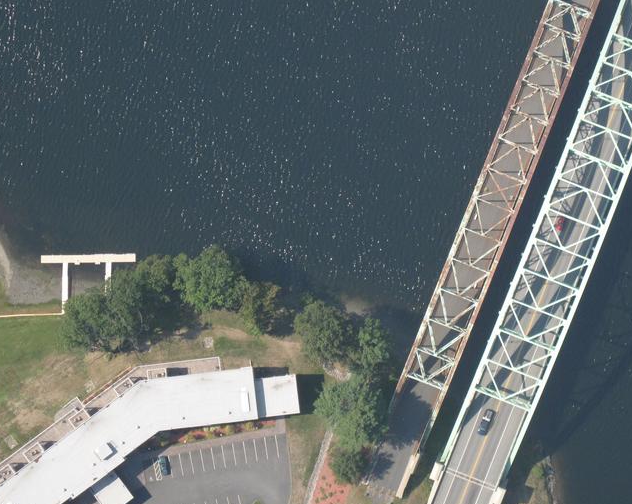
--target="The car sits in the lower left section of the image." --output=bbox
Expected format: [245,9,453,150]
[158,454,171,476]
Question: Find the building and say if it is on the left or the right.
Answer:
left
